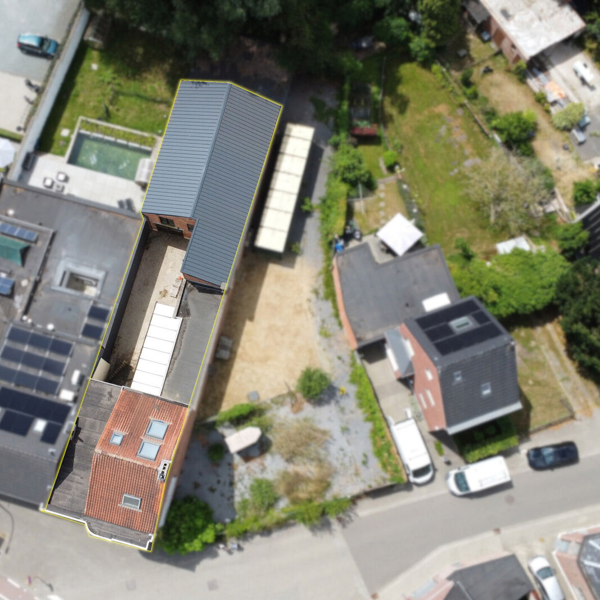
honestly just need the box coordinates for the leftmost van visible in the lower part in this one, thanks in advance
[385,412,432,486]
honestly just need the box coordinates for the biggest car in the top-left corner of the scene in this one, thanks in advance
[15,33,61,60]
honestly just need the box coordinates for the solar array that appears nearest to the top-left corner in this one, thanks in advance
[0,222,39,244]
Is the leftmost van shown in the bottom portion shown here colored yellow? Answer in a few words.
No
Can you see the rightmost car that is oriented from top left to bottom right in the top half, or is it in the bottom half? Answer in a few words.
bottom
